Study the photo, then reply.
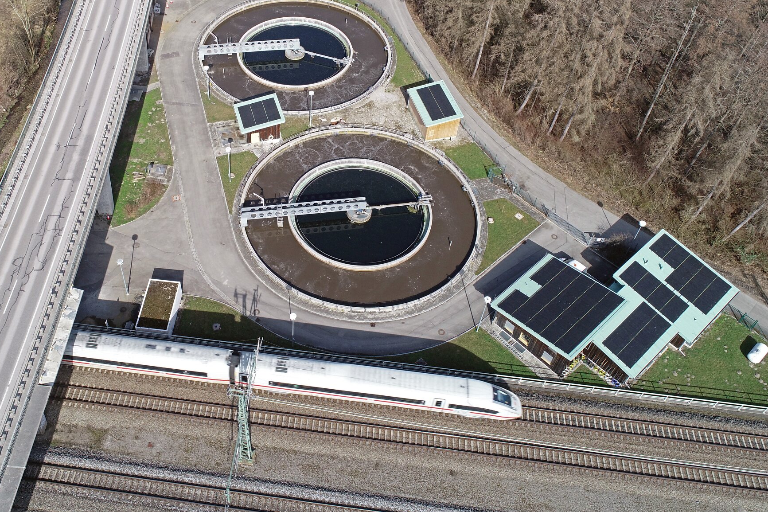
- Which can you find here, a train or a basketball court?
train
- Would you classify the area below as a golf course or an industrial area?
industrial area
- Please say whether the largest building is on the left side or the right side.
right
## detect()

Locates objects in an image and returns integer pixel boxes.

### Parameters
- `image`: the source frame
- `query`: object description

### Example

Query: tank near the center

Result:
[239,123,482,312]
